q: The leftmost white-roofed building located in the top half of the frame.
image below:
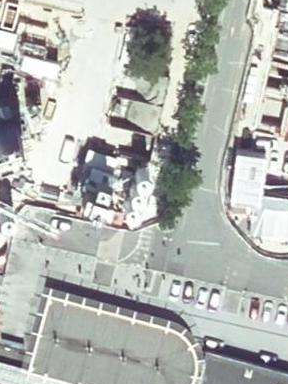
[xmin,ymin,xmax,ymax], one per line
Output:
[0,30,20,55]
